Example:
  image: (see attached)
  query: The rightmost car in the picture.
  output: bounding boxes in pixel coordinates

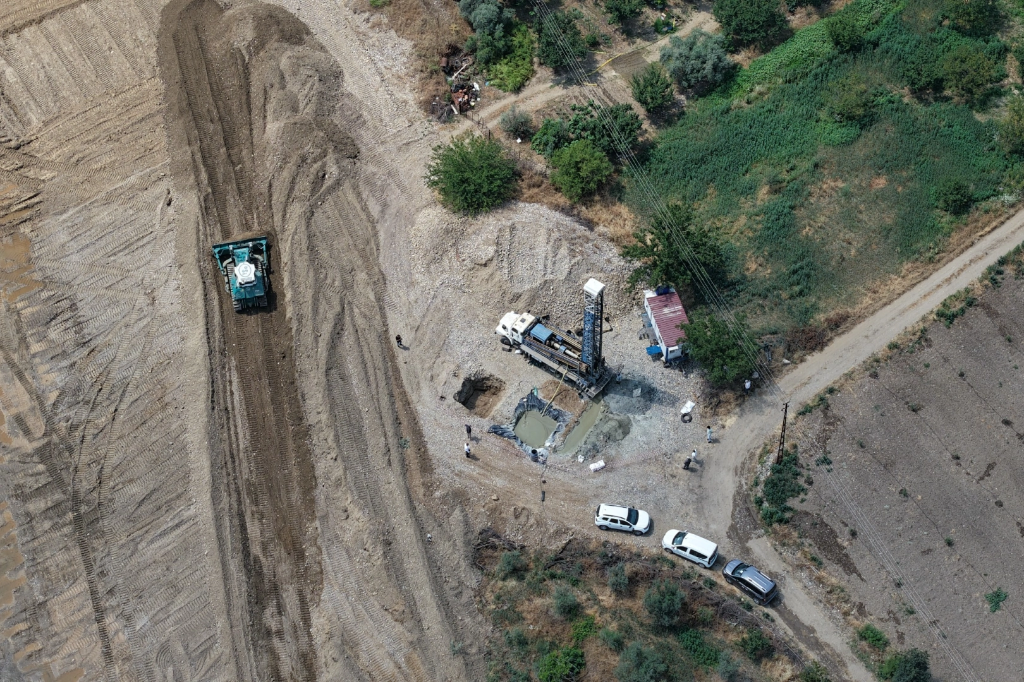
[721,560,780,609]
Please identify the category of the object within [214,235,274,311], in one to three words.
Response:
work vehicle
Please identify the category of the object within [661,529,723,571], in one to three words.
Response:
car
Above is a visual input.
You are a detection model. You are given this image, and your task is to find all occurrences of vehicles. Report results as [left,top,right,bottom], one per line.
[661,529,723,571]
[492,280,627,400]
[721,560,780,609]
[214,235,274,311]
[594,502,655,538]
